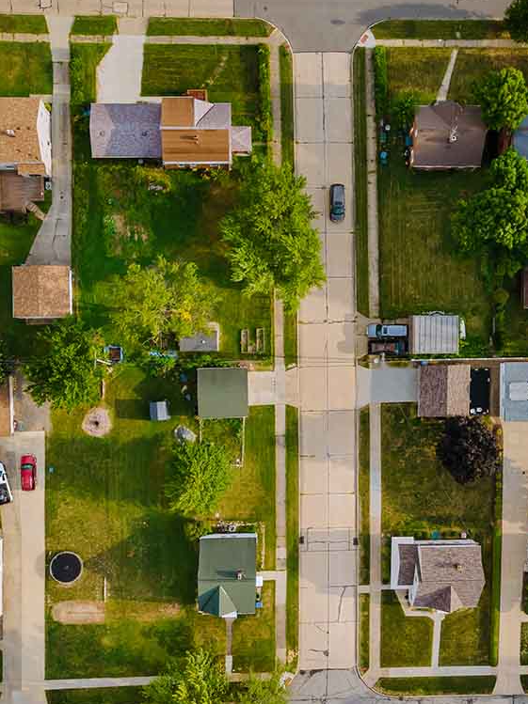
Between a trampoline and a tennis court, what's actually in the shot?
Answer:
trampoline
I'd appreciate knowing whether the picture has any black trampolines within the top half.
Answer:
No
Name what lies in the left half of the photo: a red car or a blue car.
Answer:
red car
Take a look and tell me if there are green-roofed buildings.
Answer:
Yes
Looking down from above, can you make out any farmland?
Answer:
No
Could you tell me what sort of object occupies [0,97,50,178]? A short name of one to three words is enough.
house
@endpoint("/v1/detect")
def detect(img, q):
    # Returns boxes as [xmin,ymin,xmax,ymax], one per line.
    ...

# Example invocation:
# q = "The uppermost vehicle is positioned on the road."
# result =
[328,184,346,223]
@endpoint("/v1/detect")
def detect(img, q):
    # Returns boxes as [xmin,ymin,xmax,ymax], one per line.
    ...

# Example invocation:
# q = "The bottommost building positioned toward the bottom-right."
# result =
[389,533,484,618]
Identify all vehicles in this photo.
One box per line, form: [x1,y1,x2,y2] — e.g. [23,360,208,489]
[0,462,13,505]
[328,184,346,223]
[19,453,37,490]
[368,339,407,356]
[367,321,407,338]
